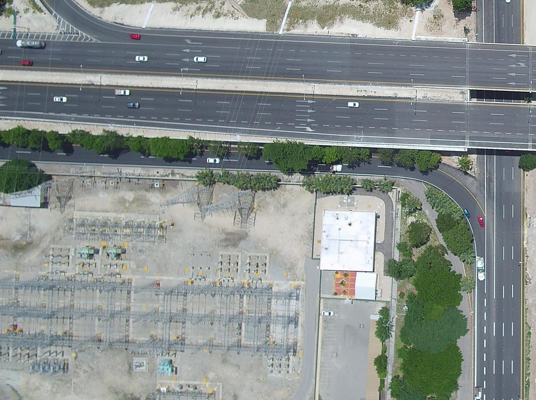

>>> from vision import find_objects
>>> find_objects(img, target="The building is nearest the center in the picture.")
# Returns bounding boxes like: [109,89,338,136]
[320,207,381,271]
